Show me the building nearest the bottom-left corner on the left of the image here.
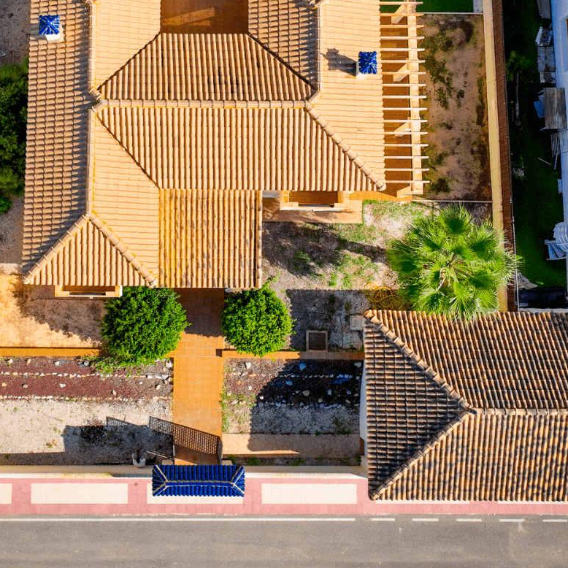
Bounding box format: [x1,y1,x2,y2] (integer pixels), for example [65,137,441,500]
[149,463,246,500]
